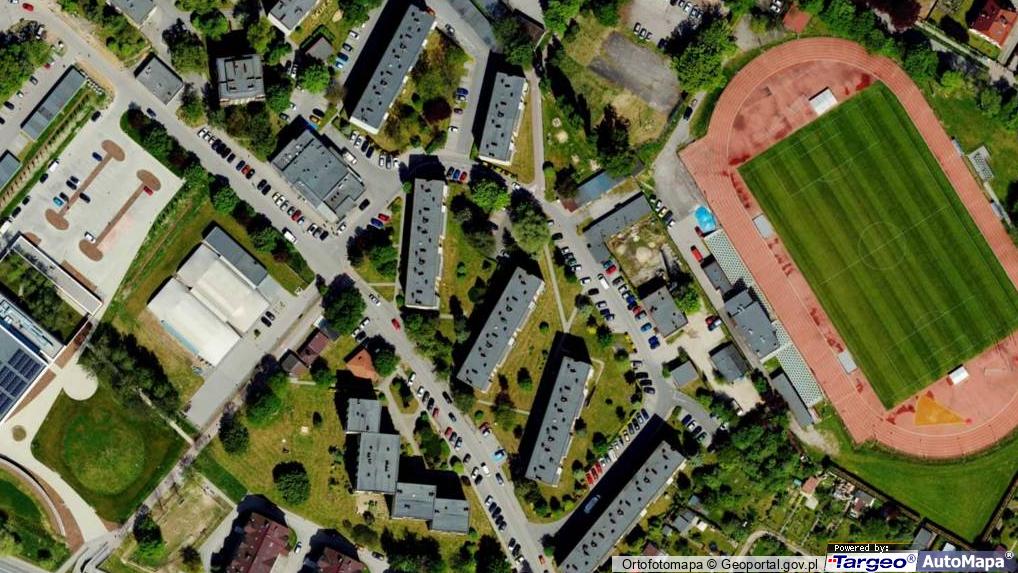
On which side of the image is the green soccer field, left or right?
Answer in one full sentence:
It is on the right.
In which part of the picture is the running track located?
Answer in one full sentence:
Look in the right portion of the view to spot the running track.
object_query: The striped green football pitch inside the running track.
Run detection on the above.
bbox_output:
[739,81,1018,410]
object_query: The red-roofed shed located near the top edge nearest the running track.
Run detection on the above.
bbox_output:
[783,6,811,33]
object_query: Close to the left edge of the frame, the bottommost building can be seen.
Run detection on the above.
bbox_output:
[0,323,53,428]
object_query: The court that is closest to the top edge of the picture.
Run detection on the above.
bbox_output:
[588,31,681,107]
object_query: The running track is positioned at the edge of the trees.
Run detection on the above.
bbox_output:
[679,36,1018,457]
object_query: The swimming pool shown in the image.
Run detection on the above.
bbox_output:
[696,206,717,232]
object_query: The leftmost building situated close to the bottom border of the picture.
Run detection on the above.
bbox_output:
[222,511,292,573]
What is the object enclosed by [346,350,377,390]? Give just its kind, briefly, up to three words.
house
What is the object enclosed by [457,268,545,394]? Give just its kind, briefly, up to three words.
building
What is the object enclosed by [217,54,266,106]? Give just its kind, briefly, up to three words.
house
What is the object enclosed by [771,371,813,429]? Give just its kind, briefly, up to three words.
shed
